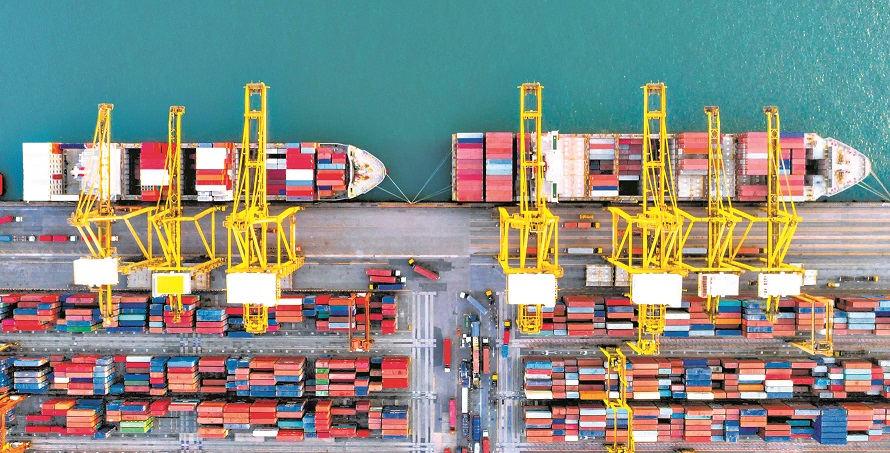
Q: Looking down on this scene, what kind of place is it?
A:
port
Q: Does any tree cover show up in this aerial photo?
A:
No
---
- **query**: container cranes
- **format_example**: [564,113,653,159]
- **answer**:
[224,77,309,335]
[786,292,833,356]
[706,106,812,323]
[65,106,175,323]
[491,77,561,335]
[142,106,236,323]
[625,292,662,356]
[595,345,628,409]
[601,398,634,453]
[599,77,687,335]
[654,106,747,323]
[347,292,375,353]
